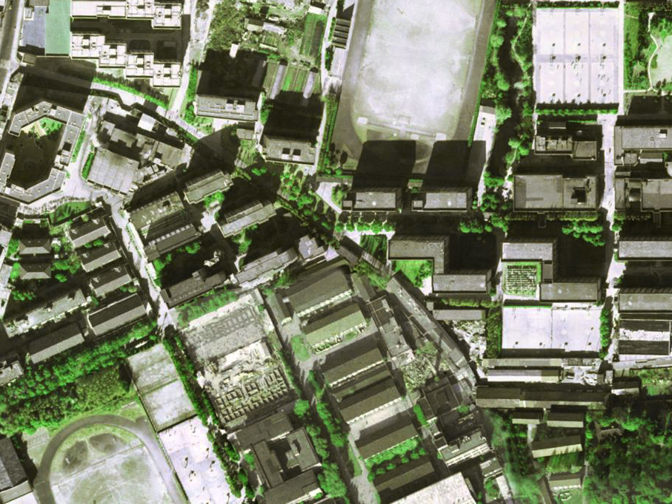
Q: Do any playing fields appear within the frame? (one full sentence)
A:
Yes, I can see a playing field in this picture.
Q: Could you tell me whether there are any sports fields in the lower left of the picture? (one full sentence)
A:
Yes, a sports field appears in the lower left of the picture.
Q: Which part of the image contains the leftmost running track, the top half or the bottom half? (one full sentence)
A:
Seen from above, the leftmost running track lies in the bottom half of the view.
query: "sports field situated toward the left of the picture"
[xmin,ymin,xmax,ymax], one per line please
[58,437,177,504]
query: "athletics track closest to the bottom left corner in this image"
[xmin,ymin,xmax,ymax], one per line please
[38,414,184,504]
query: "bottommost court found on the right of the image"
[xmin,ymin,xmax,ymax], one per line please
[503,308,601,350]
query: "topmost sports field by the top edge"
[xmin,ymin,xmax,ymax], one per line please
[350,0,486,133]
